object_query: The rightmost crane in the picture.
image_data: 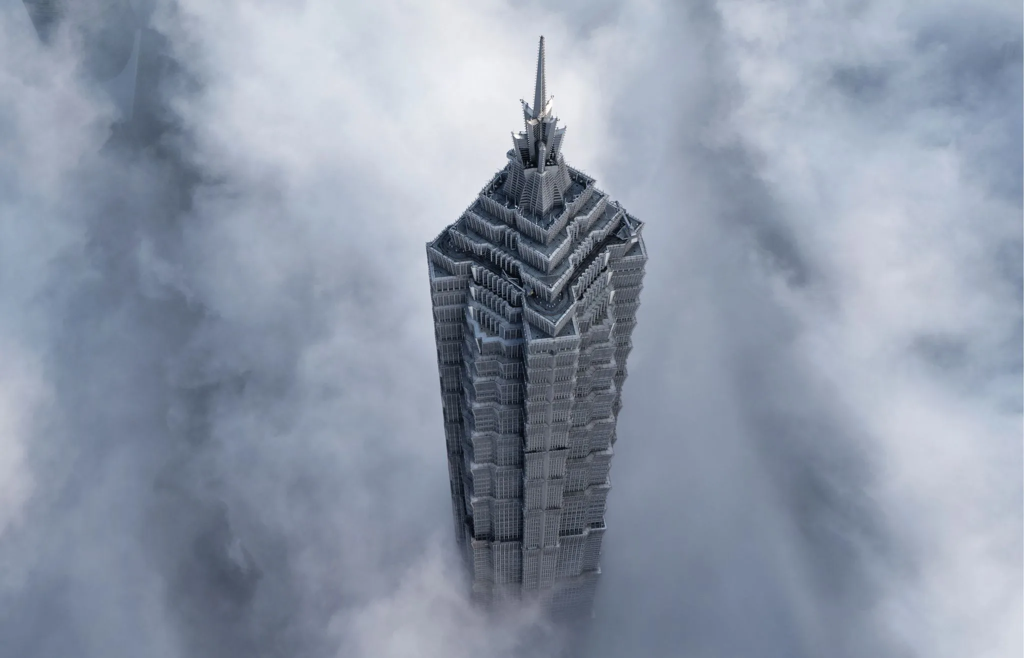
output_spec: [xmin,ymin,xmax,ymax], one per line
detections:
[612,187,644,247]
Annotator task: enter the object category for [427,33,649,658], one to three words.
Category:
building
